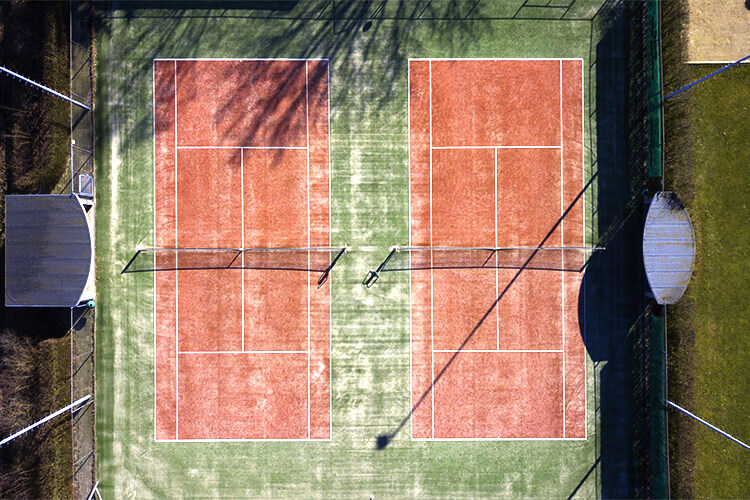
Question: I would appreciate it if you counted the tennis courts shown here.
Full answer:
Altogether the scene contains 2 tennis courts.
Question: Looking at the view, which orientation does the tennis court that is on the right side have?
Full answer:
In this picture, the tennis court that is on the right side lies vertically.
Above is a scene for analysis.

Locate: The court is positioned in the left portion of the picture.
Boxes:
[153,59,332,442]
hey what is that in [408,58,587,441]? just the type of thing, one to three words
tennis court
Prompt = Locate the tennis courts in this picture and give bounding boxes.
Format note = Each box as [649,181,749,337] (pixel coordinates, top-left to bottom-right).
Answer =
[408,58,587,441]
[153,59,332,442]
